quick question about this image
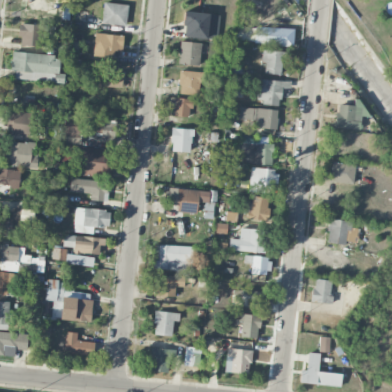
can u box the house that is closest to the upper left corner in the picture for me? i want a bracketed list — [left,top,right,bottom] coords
[19,22,34,46]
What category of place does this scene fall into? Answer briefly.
residential area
